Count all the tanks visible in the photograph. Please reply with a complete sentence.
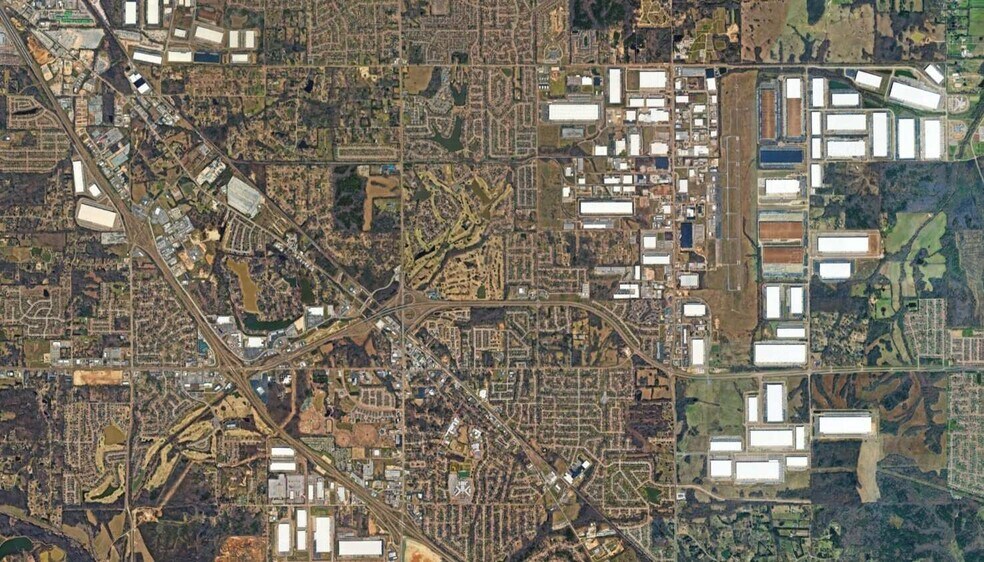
The photo contains no tanks.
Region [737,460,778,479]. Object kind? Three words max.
building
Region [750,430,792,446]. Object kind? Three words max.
building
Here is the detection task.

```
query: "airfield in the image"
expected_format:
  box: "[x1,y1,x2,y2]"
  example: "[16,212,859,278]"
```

[701,69,758,363]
